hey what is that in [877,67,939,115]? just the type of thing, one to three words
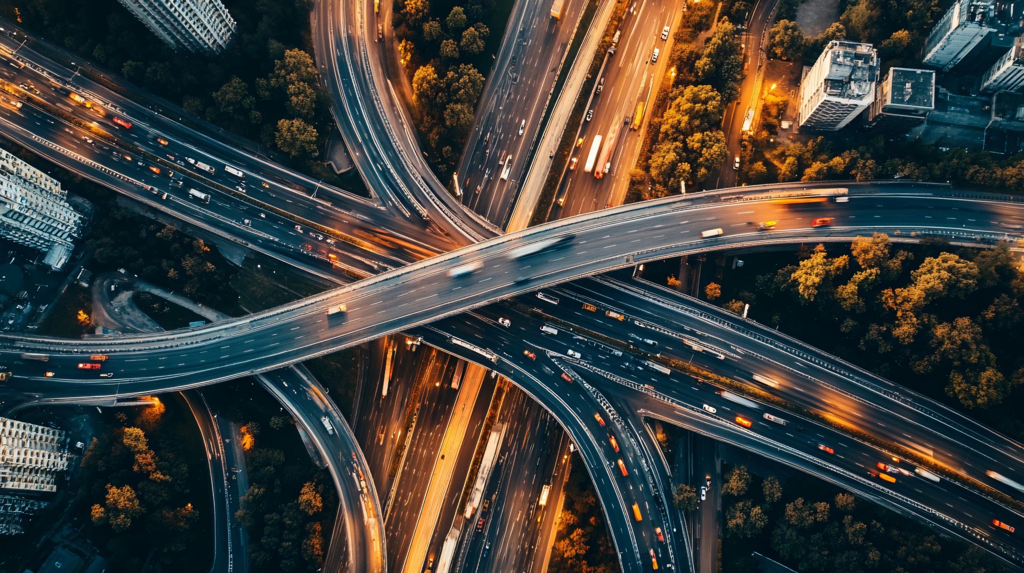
building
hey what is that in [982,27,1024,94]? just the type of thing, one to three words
building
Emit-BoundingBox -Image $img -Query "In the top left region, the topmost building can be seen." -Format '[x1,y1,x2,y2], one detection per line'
[113,0,237,53]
